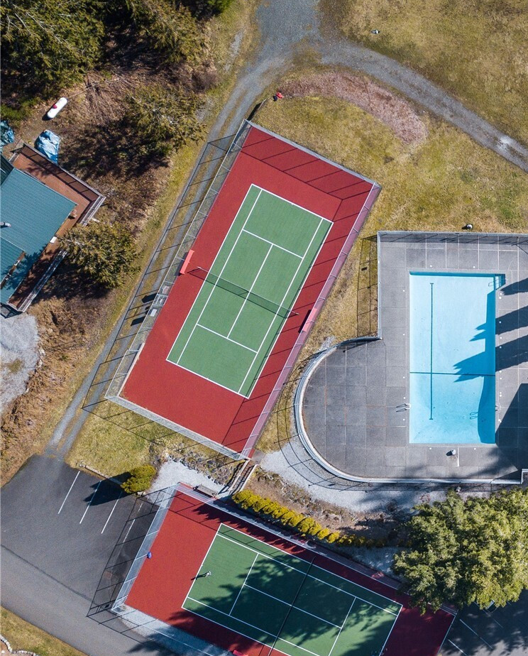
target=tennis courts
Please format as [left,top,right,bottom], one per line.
[125,483,454,656]
[120,127,379,458]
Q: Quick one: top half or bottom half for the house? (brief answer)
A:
top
